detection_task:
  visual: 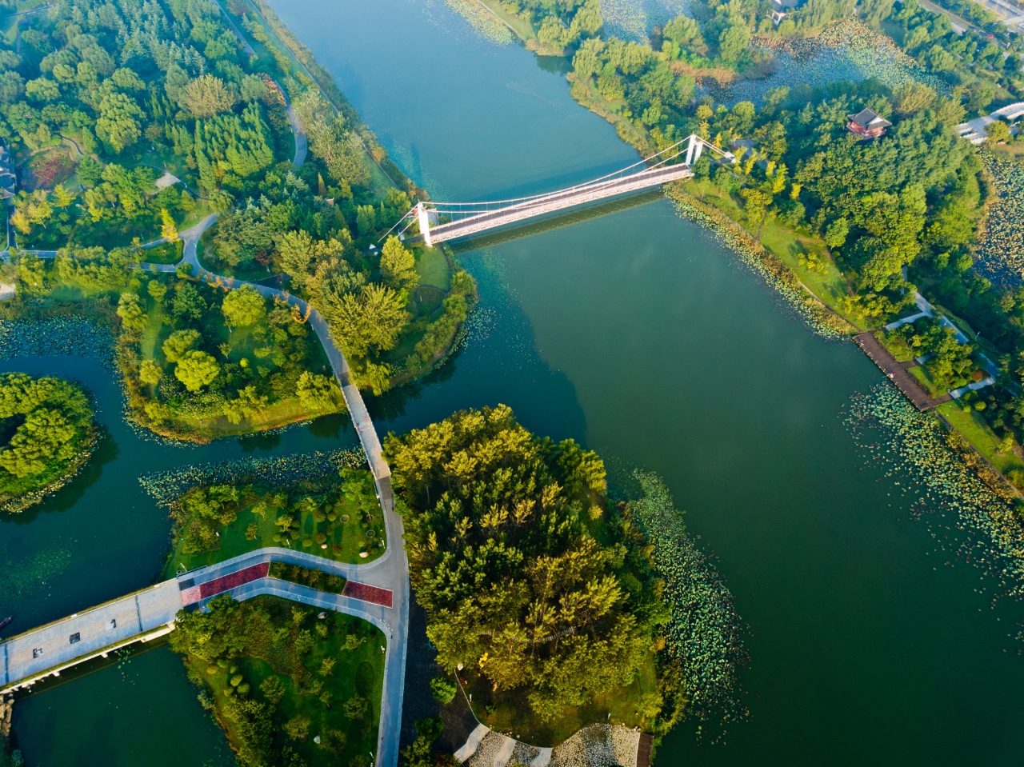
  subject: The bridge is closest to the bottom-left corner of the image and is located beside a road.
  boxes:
[0,570,184,701]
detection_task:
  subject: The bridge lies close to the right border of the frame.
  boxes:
[955,95,1024,145]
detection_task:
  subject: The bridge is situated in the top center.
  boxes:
[366,130,737,256]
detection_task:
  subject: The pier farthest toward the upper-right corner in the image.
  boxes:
[854,326,953,411]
